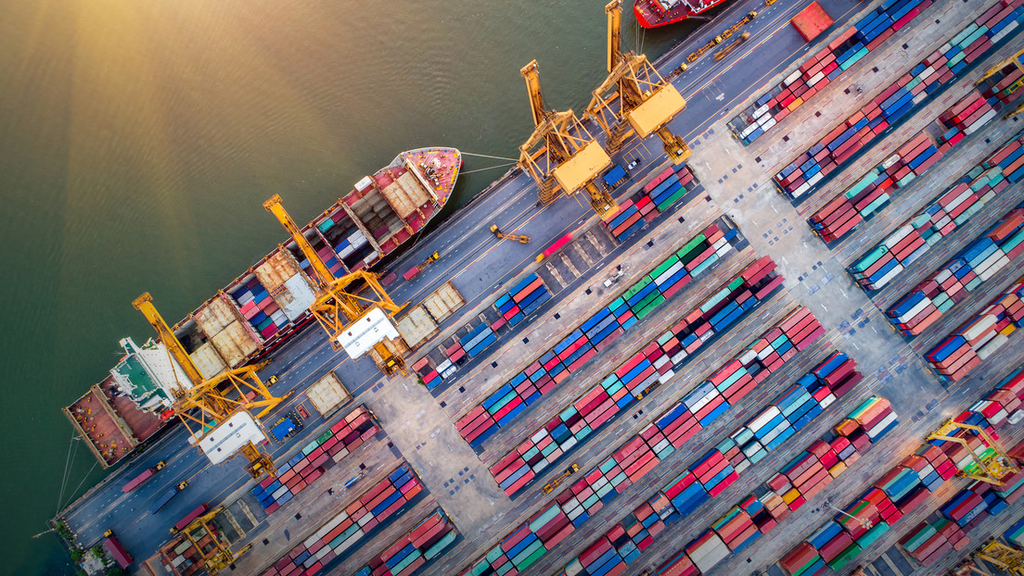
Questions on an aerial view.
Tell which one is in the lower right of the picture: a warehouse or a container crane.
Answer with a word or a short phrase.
container crane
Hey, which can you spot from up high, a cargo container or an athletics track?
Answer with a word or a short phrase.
cargo container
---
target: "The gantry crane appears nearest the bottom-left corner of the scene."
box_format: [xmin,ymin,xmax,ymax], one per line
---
[144,525,203,576]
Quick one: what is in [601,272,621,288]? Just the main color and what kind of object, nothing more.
white vehicle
